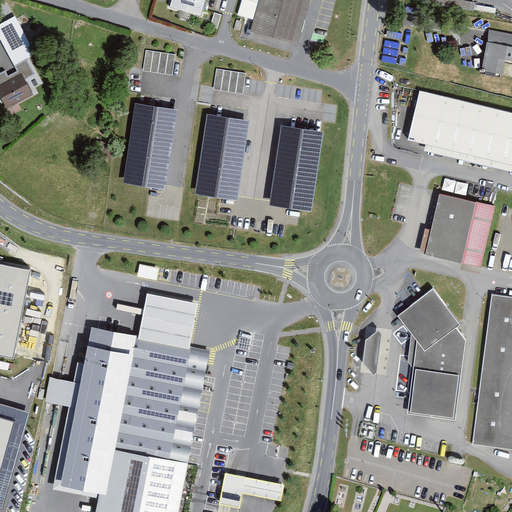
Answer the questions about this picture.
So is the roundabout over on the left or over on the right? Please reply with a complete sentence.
The roundabout appears in the right half of the scene.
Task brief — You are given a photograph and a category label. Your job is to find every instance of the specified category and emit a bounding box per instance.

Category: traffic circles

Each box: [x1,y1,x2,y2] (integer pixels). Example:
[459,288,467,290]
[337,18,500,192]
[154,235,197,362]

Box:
[307,244,374,310]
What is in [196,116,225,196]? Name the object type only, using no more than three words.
solar array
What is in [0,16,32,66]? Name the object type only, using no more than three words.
house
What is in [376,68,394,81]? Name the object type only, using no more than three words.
vehicle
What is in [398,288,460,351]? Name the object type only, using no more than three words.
building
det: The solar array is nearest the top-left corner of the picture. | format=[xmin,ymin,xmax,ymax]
[2,24,22,50]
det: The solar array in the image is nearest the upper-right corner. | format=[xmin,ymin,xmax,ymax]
[270,126,299,206]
